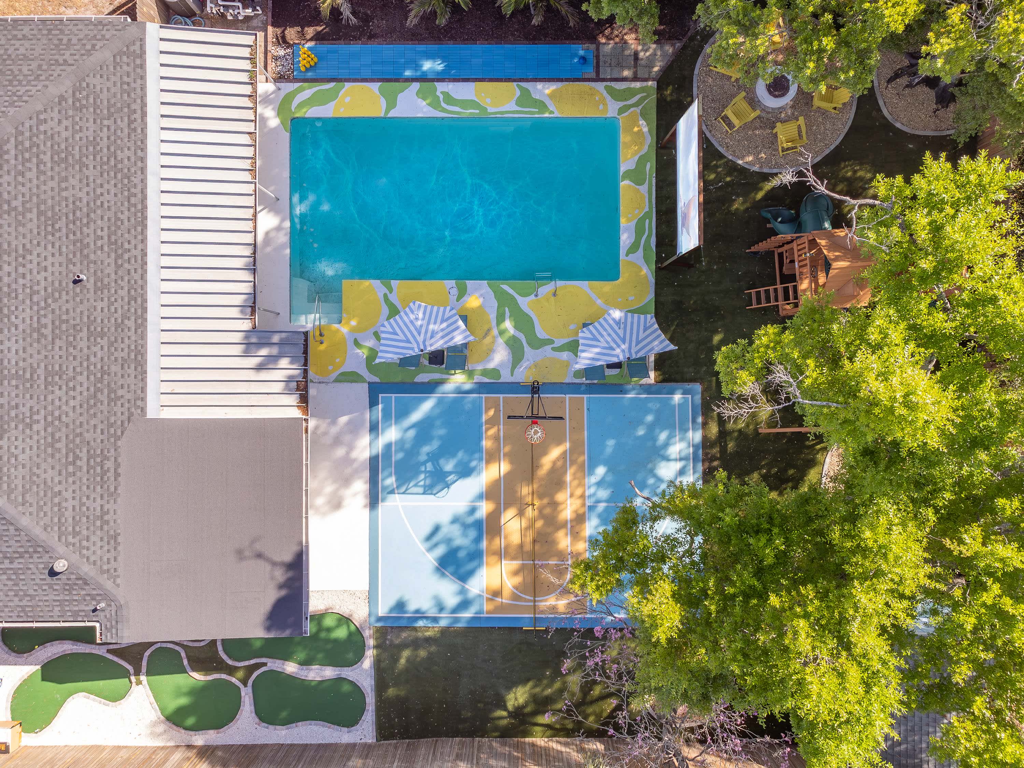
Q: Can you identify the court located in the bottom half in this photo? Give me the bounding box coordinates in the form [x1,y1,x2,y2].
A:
[369,383,701,627]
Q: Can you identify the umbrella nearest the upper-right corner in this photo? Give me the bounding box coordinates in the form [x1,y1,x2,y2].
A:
[572,309,677,370]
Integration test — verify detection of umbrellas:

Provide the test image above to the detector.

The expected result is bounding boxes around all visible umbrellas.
[572,309,677,370]
[373,301,478,366]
